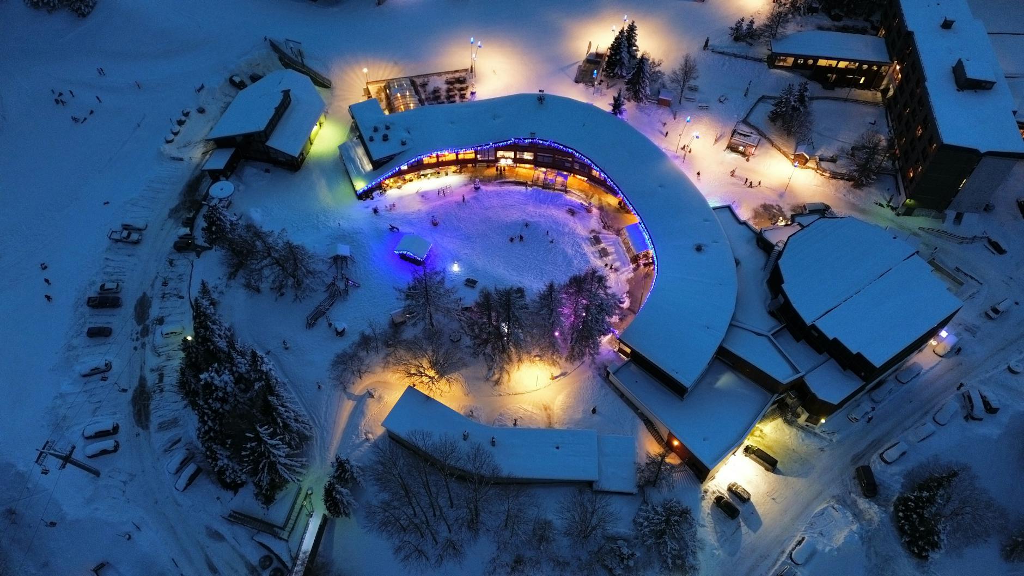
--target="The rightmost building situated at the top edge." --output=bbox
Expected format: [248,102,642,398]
[869,0,1024,210]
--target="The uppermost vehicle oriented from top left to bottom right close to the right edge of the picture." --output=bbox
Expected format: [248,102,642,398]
[987,236,1009,256]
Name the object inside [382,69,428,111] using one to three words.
greenhouse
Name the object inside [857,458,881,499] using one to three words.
vehicle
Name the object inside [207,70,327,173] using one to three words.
house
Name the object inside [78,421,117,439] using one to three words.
car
